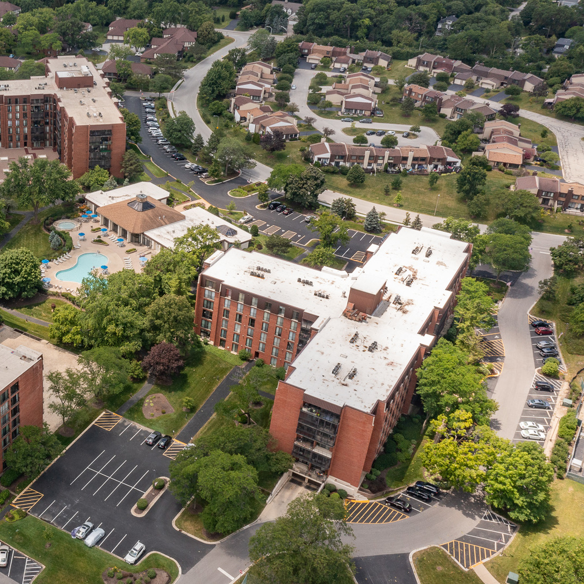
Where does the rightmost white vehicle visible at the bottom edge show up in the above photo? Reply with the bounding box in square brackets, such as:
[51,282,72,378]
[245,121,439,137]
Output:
[124,541,146,565]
